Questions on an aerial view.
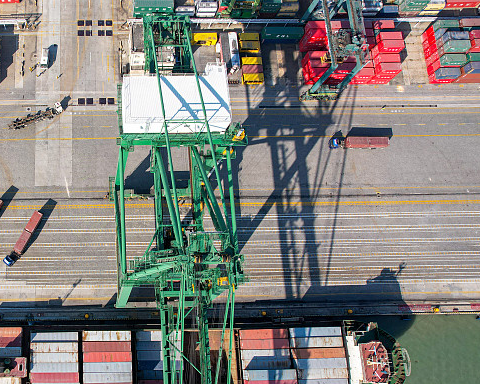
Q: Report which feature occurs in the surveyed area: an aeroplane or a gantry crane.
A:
gantry crane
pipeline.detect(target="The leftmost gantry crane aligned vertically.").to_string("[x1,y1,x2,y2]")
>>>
[102,10,265,384]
